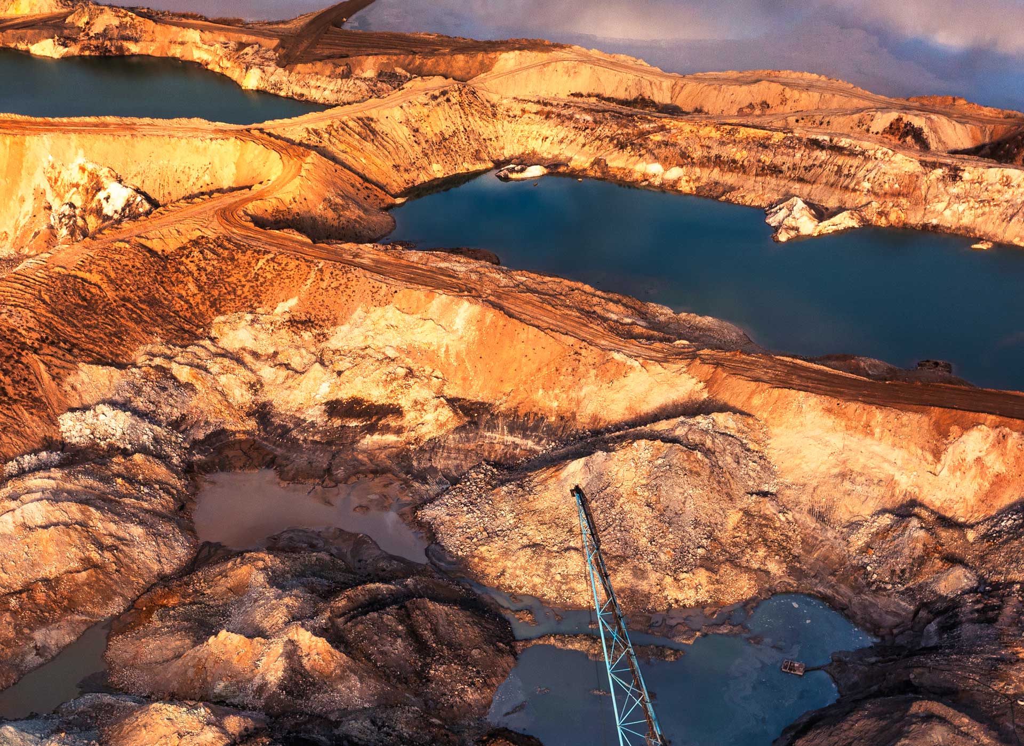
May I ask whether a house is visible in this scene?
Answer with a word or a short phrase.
No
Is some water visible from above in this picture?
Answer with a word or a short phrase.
Yes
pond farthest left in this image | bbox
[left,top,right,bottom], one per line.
[189,468,437,564]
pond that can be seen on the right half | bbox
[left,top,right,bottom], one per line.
[468,579,883,746]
